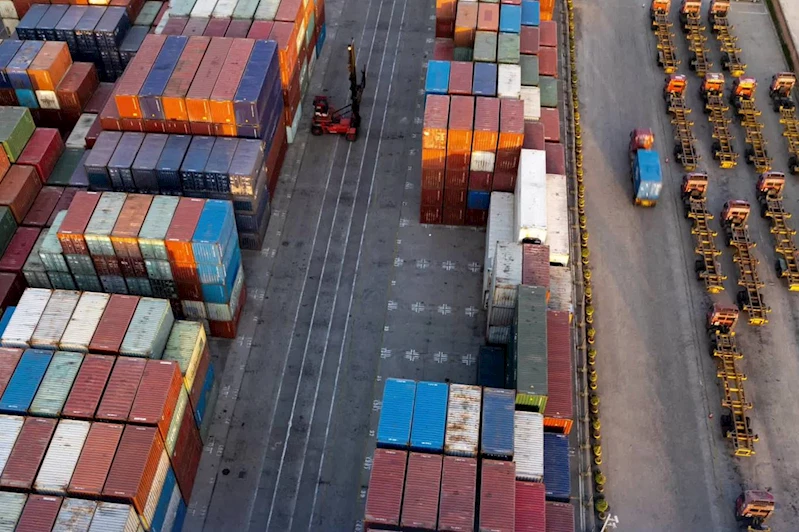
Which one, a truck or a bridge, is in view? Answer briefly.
truck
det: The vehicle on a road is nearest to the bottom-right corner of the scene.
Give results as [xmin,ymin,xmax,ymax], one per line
[736,488,775,532]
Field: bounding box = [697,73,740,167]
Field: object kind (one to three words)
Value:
truck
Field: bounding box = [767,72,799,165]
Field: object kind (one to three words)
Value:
truck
